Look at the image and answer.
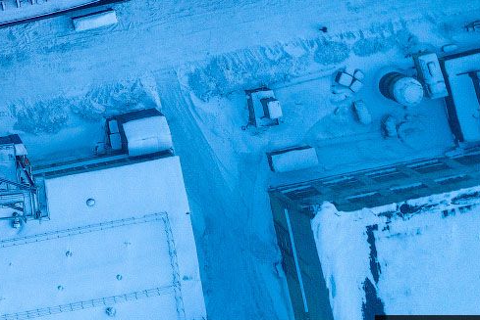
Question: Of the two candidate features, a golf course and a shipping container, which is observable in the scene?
shipping container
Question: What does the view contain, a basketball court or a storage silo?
storage silo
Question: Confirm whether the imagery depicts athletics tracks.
No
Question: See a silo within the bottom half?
No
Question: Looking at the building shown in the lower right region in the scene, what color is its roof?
blue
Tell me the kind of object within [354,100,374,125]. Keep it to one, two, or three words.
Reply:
car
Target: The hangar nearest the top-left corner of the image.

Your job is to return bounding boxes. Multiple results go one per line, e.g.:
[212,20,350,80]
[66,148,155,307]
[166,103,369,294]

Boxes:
[106,109,173,149]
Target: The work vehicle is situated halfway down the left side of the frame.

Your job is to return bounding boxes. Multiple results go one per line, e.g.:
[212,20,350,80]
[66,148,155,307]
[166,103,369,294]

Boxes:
[95,136,107,154]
